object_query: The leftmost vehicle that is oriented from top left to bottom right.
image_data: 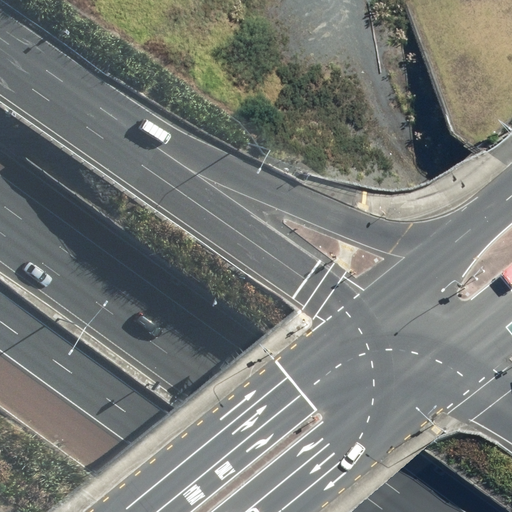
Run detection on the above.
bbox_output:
[23,262,53,287]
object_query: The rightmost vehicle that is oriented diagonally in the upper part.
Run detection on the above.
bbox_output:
[139,118,172,144]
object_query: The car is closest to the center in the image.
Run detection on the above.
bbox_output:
[134,312,164,336]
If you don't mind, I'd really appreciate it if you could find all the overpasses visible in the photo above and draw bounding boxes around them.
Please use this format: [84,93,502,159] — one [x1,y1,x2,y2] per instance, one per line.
[46,310,512,512]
